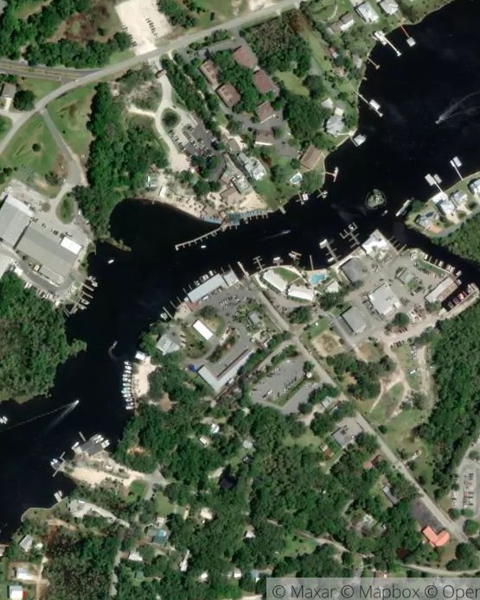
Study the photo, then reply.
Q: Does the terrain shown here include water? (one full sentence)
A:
Yes, there is water in the image.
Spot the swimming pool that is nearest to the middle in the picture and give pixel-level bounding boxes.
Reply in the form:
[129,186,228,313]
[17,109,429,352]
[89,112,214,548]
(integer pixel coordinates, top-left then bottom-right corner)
[310,271,326,284]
